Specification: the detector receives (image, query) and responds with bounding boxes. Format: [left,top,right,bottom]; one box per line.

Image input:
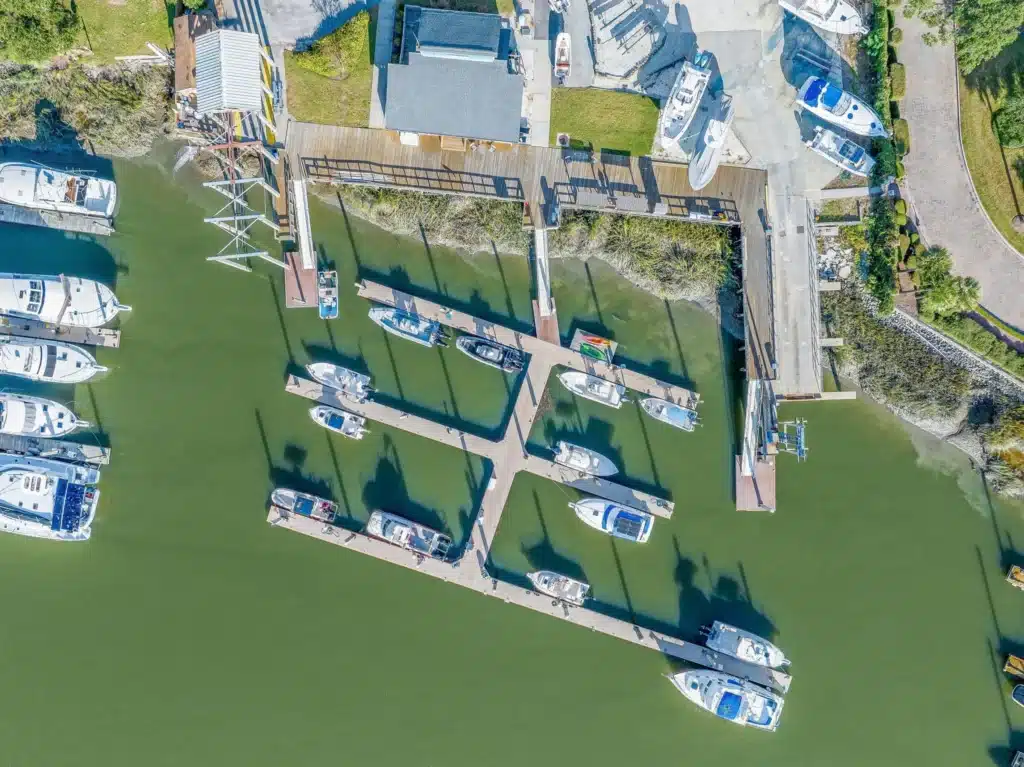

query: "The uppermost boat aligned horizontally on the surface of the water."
[0,153,121,222]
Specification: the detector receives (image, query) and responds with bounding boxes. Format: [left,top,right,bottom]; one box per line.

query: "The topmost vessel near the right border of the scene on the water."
[999,560,1024,590]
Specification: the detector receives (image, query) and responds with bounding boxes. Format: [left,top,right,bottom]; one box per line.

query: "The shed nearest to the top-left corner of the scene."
[195,28,273,128]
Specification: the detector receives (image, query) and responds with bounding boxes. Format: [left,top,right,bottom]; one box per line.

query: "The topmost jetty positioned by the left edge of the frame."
[0,203,115,237]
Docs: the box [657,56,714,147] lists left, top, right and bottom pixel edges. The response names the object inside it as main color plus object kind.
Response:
white boat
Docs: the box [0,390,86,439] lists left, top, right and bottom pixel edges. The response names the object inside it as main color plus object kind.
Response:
white boat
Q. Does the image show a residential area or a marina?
marina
